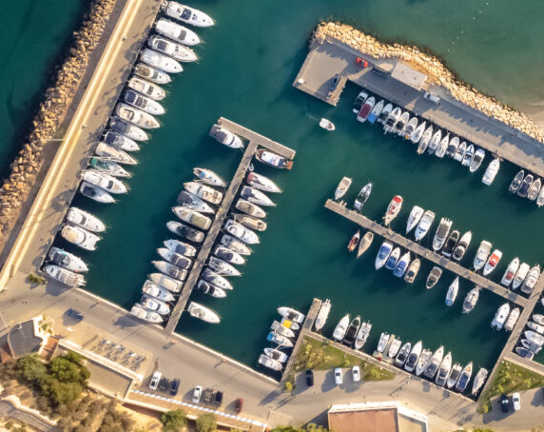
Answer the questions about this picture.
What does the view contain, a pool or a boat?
boat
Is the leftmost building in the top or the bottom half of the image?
bottom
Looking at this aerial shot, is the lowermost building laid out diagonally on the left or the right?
left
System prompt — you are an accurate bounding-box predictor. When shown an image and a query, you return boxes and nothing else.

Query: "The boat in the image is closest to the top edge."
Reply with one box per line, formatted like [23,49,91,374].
[161,1,214,26]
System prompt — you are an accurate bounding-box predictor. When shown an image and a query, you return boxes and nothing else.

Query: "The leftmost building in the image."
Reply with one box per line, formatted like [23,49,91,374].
[0,315,60,363]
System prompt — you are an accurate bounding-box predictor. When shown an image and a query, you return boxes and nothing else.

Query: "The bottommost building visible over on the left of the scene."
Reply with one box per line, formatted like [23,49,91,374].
[61,346,136,401]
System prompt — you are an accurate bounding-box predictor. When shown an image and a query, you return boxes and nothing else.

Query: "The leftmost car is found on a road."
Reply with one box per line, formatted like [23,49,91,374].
[66,308,84,321]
